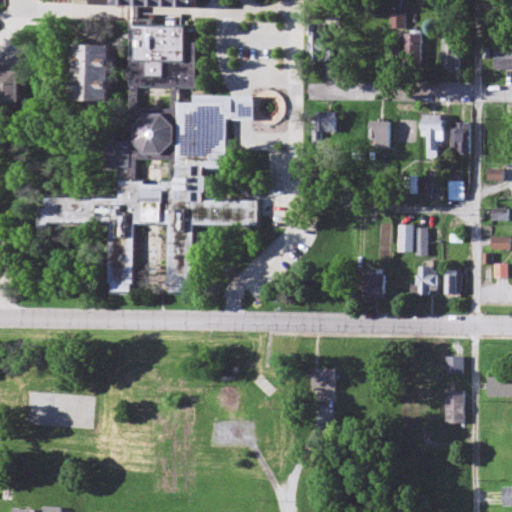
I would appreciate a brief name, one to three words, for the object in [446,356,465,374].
building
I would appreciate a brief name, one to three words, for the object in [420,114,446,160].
house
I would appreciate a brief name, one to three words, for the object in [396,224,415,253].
building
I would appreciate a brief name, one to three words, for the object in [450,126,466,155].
house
